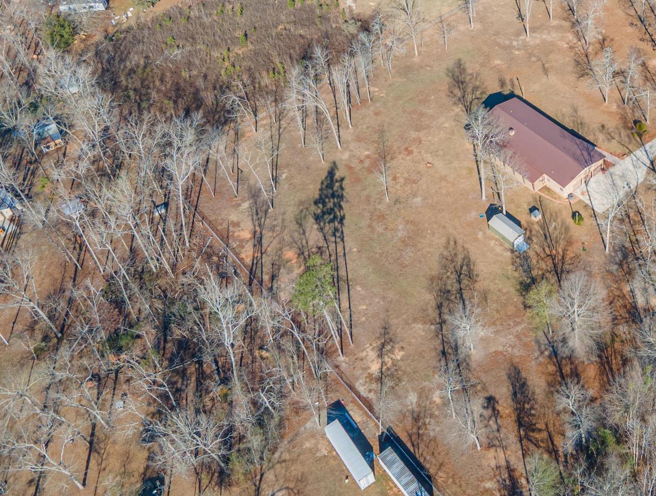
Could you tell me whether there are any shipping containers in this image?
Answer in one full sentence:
Yes, a shipping container can be made out from above.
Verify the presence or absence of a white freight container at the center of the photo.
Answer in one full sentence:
No, I see no white freight container at the center of the photo.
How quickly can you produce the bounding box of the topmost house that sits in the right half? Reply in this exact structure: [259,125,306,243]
[462,101,612,196]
